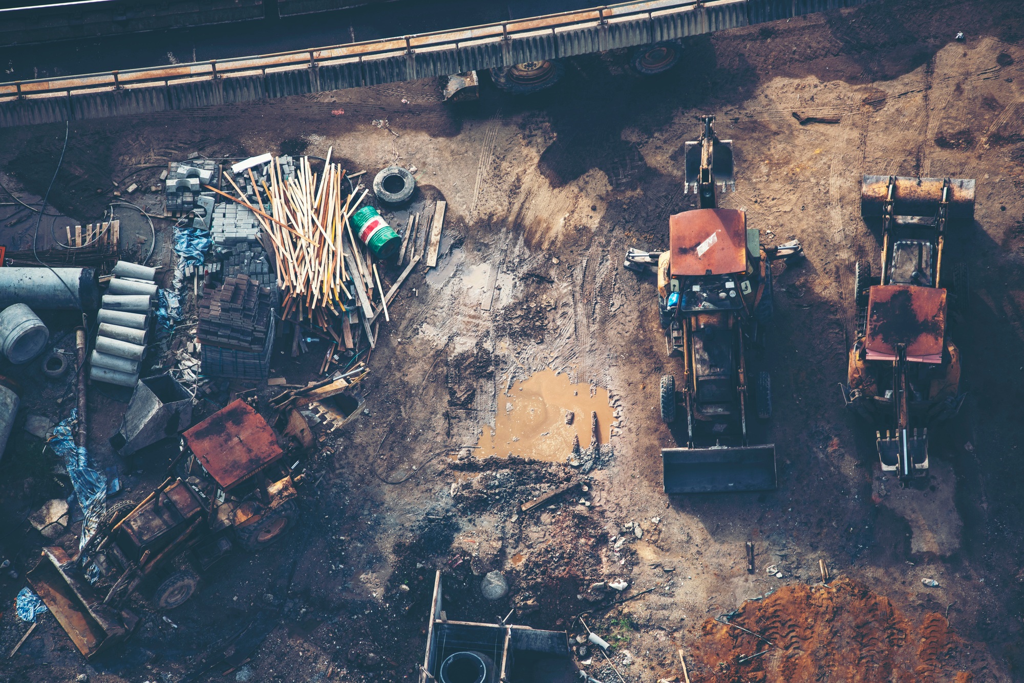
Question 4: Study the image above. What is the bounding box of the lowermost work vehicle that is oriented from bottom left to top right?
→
[27,369,365,667]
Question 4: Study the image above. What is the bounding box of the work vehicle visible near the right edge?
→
[836,178,976,494]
